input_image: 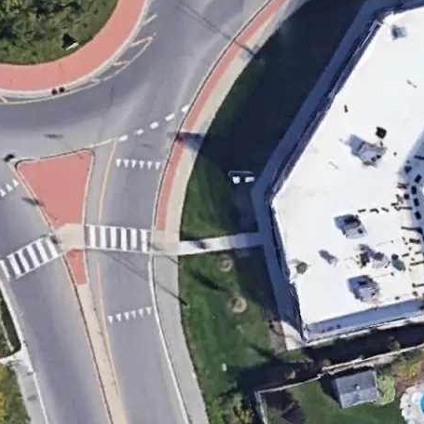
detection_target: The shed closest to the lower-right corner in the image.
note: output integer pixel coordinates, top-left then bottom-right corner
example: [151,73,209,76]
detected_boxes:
[333,367,381,408]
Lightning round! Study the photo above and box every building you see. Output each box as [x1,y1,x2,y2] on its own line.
[263,0,424,341]
[333,367,381,408]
